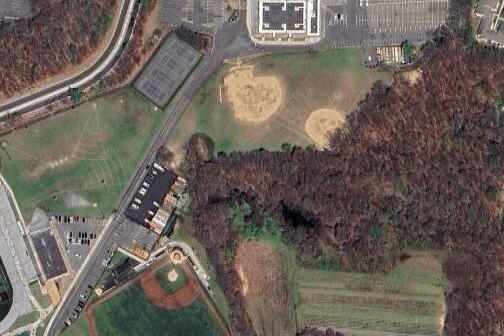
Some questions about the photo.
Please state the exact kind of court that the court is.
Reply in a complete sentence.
The court in the image is a tennis court.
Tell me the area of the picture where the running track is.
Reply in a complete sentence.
The running track sits in the bottom left section of the image.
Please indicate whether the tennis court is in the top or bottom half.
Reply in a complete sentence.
You can find the tennis court in the top half.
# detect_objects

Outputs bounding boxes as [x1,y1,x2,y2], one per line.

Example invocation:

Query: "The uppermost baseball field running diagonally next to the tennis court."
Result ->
[220,62,309,134]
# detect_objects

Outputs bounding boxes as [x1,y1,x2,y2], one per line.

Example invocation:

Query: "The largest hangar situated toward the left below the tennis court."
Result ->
[125,162,179,231]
